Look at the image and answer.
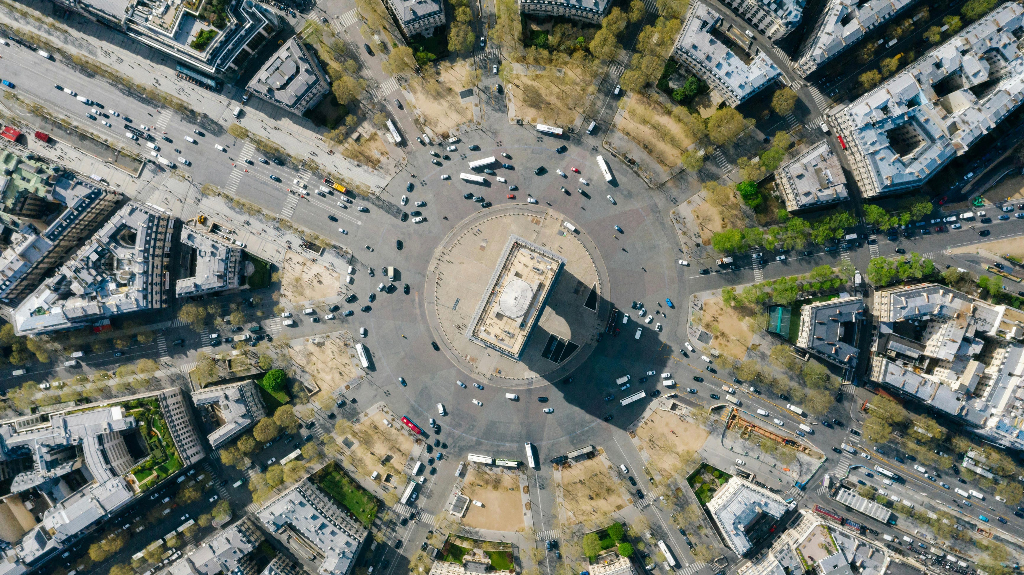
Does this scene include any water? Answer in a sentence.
No, water can't be seen anywhere here.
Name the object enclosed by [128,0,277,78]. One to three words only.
building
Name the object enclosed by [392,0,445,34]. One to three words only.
house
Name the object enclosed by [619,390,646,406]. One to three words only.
vehicle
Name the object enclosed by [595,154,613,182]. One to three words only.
vehicle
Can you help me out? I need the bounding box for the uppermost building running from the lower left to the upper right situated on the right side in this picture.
[795,0,915,75]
